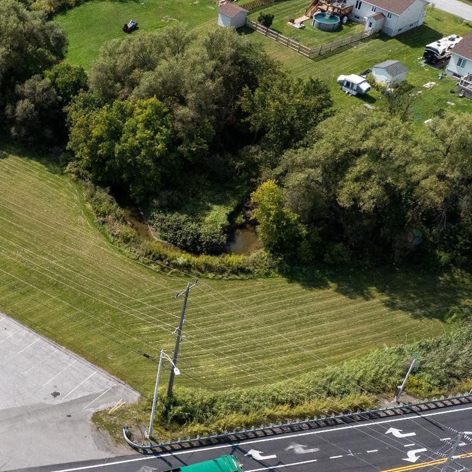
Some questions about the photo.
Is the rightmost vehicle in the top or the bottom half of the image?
top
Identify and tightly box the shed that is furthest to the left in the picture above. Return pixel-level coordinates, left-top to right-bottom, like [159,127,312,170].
[218,3,248,26]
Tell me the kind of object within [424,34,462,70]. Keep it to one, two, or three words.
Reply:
vehicle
